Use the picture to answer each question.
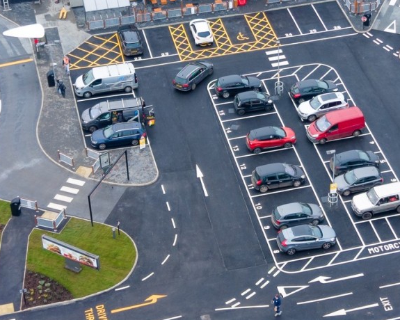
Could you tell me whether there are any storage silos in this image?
No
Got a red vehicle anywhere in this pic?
Yes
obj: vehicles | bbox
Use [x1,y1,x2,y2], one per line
[269,200,326,232]
[189,20,218,48]
[305,102,368,144]
[296,90,350,122]
[83,93,157,132]
[288,78,337,104]
[247,162,307,195]
[244,127,297,156]
[351,177,400,220]
[170,63,214,96]
[327,150,381,179]
[117,28,146,59]
[89,121,148,152]
[230,92,276,117]
[335,166,388,201]
[75,61,134,97]
[214,75,264,102]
